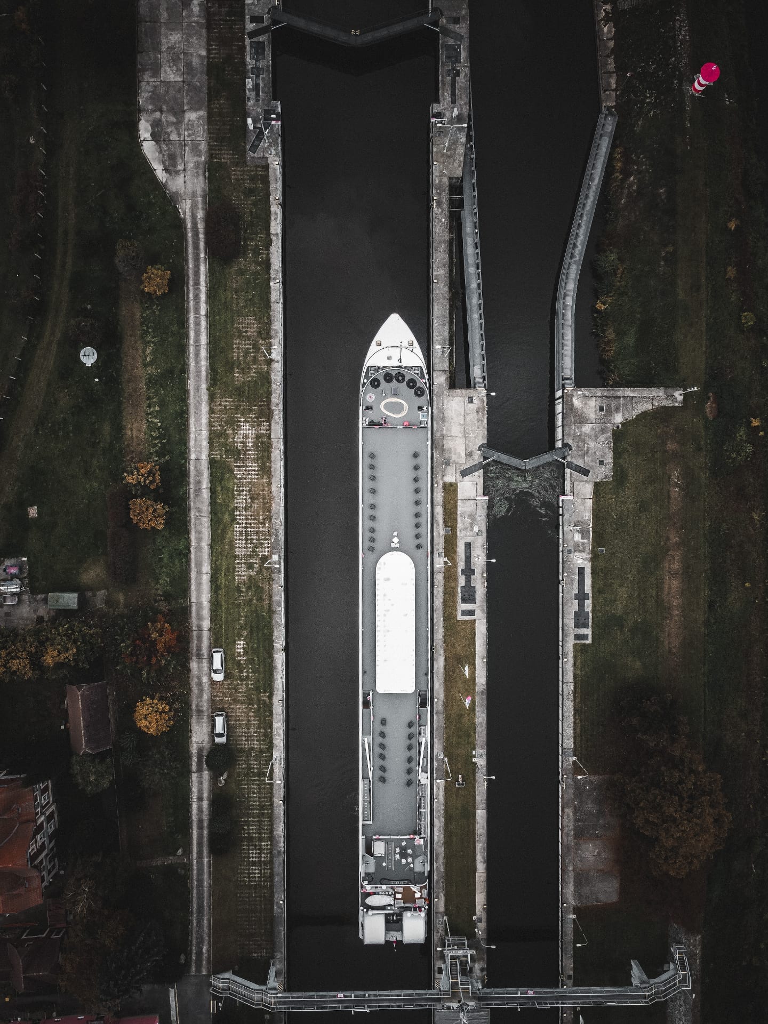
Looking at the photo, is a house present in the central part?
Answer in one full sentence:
No, I can find no house in the central part.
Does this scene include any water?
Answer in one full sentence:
Yes, the picture does contain water.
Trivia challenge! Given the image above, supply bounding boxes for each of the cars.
[209,650,224,681]
[212,714,226,744]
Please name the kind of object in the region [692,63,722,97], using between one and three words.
lighthouse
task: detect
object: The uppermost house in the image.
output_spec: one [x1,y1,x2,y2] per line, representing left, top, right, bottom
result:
[66,678,118,754]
